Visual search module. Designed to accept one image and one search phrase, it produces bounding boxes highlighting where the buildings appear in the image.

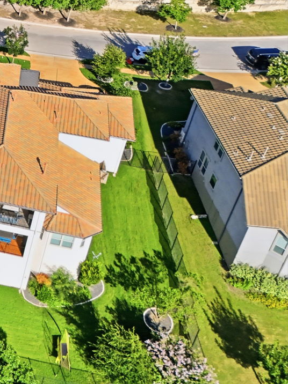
[184,82,288,277]
[0,57,135,285]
